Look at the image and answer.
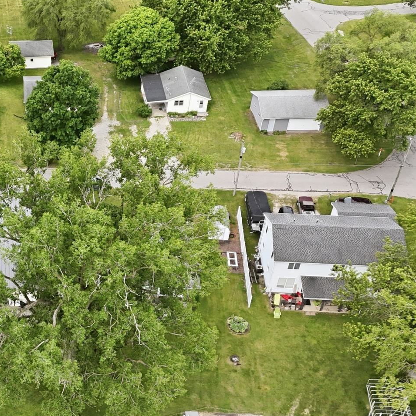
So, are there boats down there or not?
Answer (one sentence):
Yes, there's a boat down there.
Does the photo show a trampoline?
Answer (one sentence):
No, there appears to be no trampoline in this shot.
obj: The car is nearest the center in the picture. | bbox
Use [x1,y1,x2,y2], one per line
[277,197,296,212]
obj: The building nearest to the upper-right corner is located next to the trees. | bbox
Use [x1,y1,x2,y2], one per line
[250,90,332,130]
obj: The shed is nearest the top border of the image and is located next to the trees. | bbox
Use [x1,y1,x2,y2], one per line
[7,36,53,68]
